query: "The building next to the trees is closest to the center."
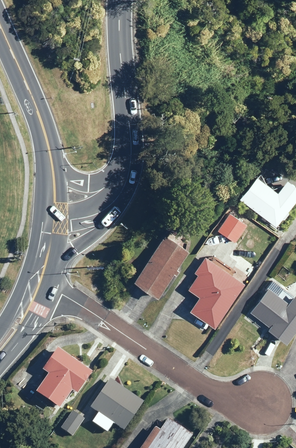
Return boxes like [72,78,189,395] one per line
[134,238,188,299]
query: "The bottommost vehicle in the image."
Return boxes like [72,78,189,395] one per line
[196,394,212,406]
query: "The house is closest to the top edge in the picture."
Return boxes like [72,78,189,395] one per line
[240,176,296,228]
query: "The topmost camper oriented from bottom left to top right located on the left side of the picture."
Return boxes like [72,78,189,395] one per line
[98,205,122,228]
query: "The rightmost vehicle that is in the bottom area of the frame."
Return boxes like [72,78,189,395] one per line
[263,341,276,357]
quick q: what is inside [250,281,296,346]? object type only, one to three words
house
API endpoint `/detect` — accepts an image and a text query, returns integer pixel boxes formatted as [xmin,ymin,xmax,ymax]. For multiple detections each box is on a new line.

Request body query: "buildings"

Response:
[250,281,296,346]
[90,378,144,432]
[60,410,84,436]
[188,258,245,330]
[134,238,188,299]
[240,176,296,228]
[218,214,246,243]
[141,418,192,448]
[36,346,92,406]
